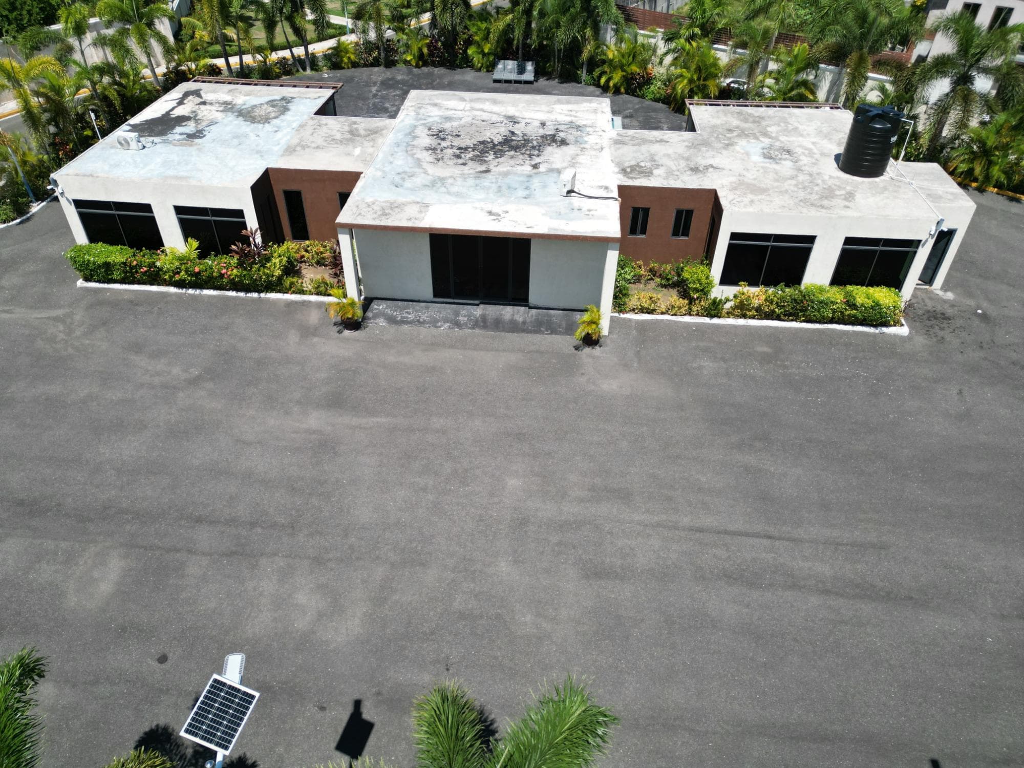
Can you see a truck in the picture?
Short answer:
No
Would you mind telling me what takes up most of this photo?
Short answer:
paved ground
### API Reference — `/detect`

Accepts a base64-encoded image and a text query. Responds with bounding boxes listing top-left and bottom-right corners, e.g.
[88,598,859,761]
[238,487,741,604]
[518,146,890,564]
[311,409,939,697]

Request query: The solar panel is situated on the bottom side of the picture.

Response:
[180,674,260,755]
